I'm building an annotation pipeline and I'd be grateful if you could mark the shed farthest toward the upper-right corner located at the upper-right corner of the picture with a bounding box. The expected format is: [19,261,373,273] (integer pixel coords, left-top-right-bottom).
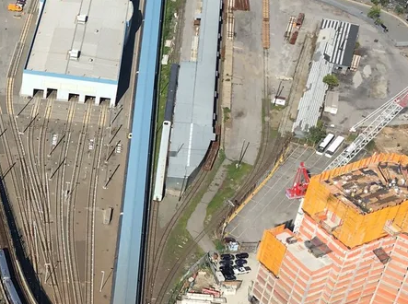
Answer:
[317,18,359,77]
